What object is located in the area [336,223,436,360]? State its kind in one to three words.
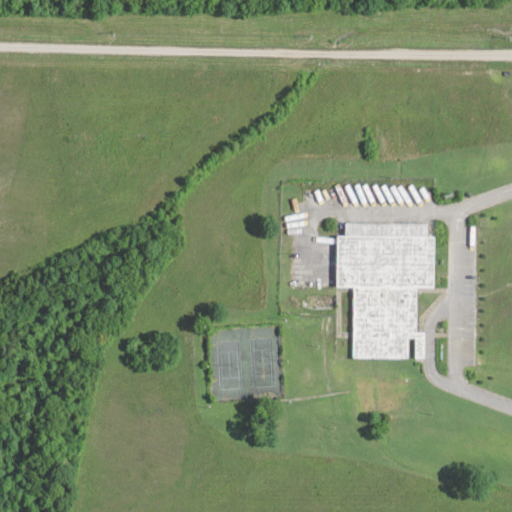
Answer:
building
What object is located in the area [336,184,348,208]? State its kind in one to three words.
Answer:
vehicle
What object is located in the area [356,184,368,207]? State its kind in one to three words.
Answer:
vehicle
